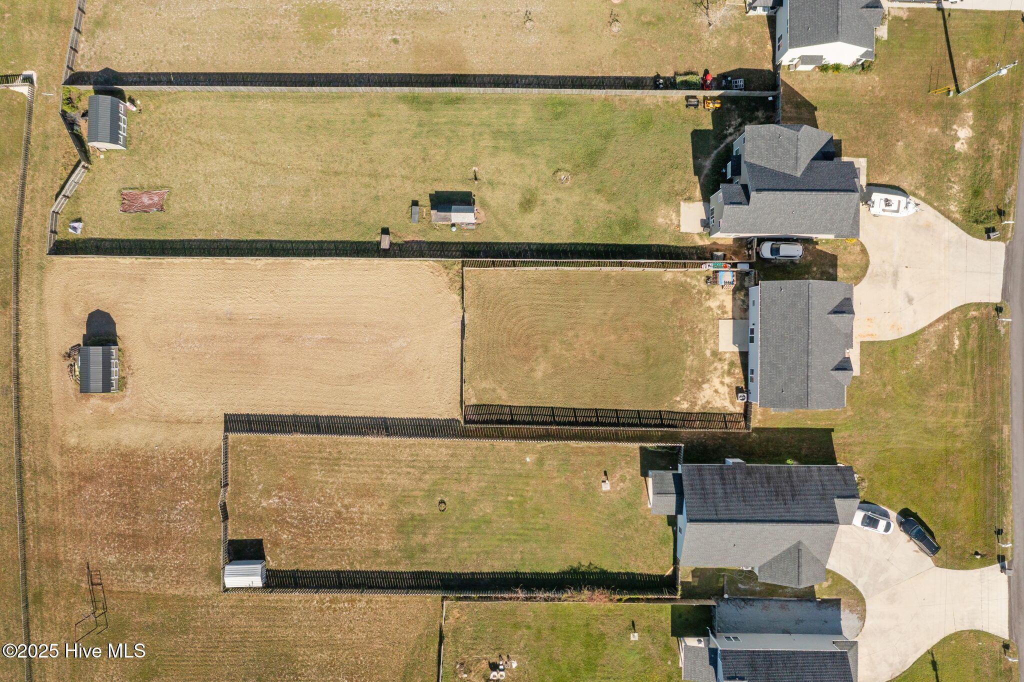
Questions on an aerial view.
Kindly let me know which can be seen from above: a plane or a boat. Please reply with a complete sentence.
Looking from above, you can make out a boat.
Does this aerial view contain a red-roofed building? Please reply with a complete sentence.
No, there's no red-roofed building here.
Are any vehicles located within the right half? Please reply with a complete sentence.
Yes, looking within the right half, one can make out a vehicle.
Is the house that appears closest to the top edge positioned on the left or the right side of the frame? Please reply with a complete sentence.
The house that appears closest to the top edge sits on the right side.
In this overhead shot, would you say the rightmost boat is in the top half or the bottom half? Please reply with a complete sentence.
The rightmost boat is in the top half of the image.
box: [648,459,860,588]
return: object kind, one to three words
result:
house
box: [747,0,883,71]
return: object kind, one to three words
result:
house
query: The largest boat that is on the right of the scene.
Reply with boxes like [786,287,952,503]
[865,191,925,216]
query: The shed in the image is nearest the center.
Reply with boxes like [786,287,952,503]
[431,204,478,223]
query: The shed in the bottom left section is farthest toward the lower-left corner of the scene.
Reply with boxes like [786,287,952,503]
[223,561,267,593]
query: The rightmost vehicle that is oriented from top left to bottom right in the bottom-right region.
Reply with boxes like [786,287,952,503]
[894,516,943,559]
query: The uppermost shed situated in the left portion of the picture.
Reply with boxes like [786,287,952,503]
[87,98,127,154]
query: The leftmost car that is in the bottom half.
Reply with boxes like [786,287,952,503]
[852,507,895,533]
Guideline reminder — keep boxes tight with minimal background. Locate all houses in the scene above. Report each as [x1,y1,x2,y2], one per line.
[680,627,858,682]
[648,459,860,588]
[709,124,860,240]
[747,0,883,71]
[748,279,855,413]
